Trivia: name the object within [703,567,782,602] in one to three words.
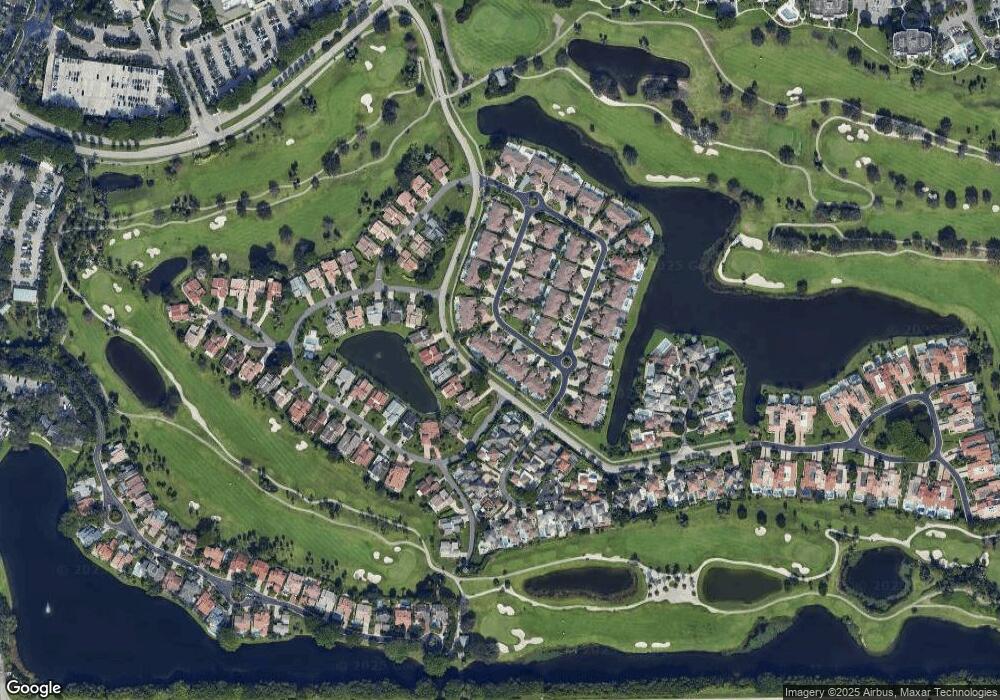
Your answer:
pond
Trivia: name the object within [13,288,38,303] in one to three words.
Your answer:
shed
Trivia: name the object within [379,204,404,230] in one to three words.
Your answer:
house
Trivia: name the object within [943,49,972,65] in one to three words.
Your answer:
swimming pool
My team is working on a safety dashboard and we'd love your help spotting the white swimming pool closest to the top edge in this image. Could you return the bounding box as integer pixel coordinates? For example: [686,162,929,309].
[778,0,801,22]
